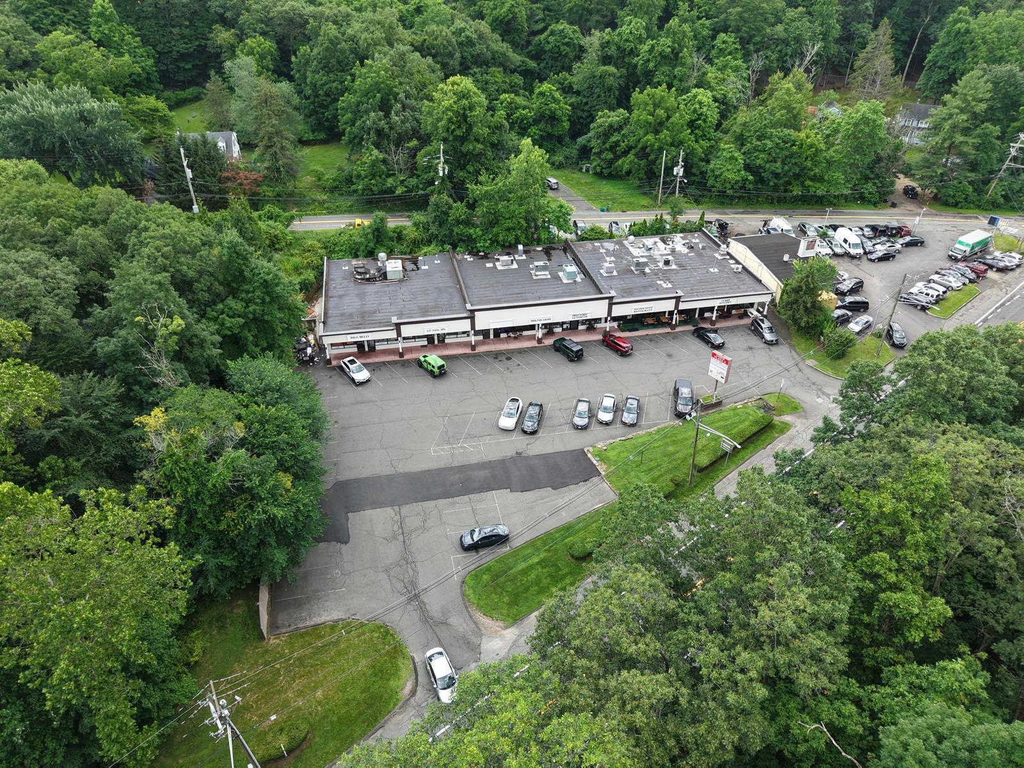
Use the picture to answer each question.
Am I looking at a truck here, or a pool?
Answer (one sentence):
There is a truck in the scene.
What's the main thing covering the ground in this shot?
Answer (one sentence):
The bulk of the photo consists of trees.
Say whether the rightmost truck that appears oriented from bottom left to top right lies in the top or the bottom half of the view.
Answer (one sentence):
The rightmost truck that appears oriented from bottom left to top right sits in the top half of the picture.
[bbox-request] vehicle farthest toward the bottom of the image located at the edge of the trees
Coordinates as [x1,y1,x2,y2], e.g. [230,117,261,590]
[423,642,461,708]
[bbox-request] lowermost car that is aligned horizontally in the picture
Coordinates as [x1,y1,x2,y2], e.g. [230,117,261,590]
[456,522,514,553]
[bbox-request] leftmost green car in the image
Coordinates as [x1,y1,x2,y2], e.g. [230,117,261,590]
[414,352,450,378]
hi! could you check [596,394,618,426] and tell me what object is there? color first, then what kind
white car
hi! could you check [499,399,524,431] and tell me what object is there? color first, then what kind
white car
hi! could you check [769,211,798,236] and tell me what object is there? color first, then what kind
white truck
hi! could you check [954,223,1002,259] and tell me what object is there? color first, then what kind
white truck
